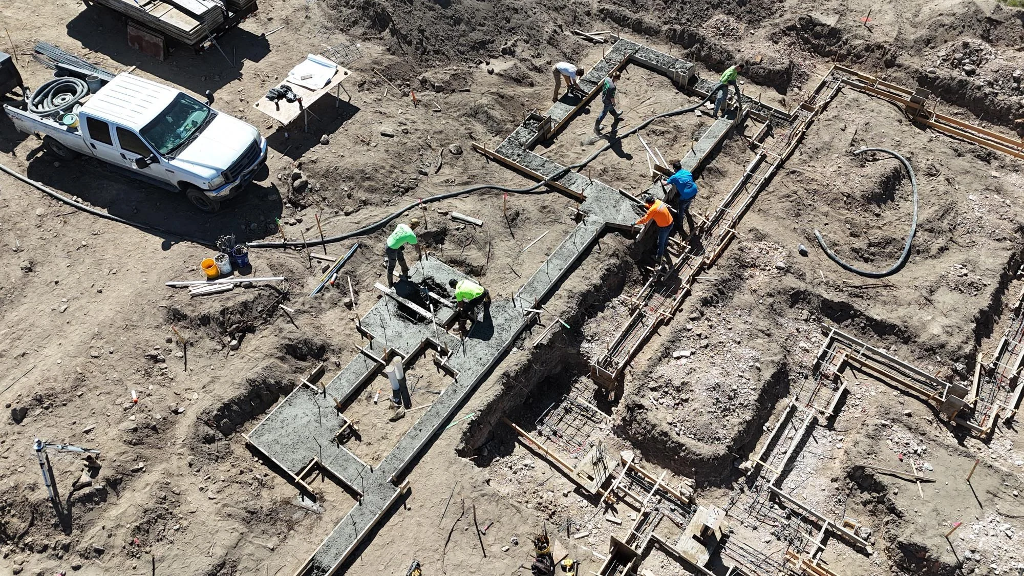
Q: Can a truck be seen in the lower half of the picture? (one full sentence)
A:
No, there is no truck in the lower half of the picture.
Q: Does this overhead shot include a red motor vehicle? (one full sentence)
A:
No, this view has no red motor vehicle in it.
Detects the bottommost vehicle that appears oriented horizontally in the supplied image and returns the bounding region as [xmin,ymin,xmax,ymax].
[5,63,271,203]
